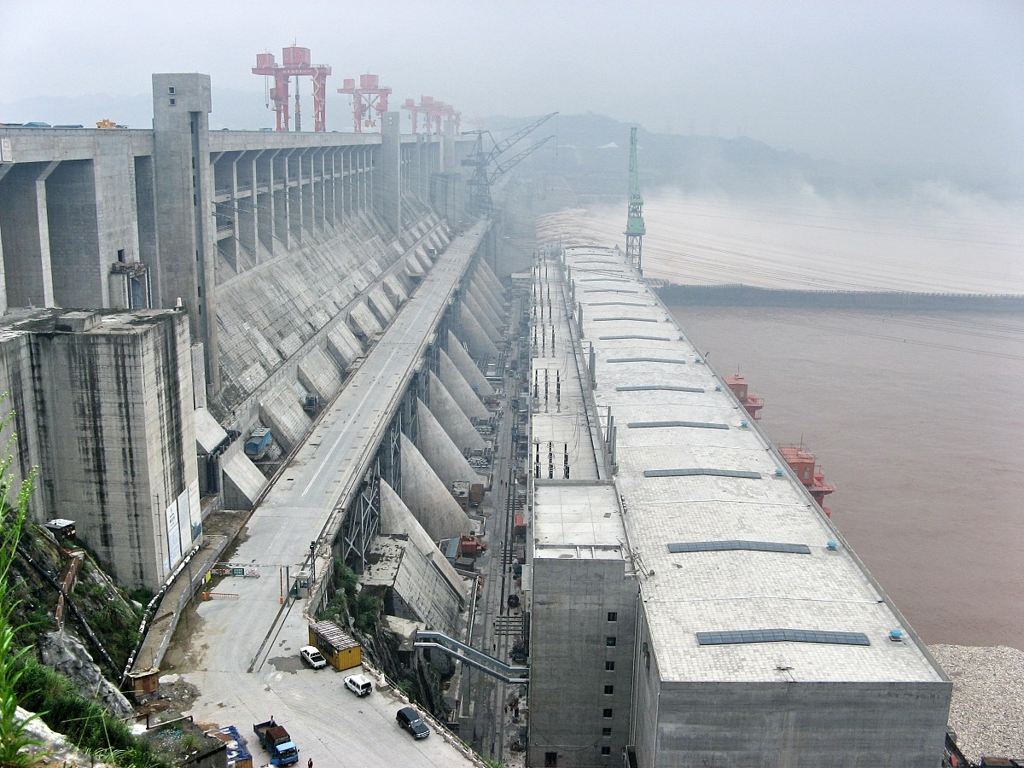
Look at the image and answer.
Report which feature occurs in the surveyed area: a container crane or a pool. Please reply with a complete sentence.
Of the two, only a container crane appears.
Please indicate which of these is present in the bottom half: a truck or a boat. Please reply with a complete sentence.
There is a truck in the bottom half.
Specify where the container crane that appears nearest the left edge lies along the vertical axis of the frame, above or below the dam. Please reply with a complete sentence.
In the image, the container crane that appears nearest the left edge appears above the dam.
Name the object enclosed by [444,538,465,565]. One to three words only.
shed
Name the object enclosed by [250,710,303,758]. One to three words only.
truck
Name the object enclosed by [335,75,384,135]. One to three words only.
container crane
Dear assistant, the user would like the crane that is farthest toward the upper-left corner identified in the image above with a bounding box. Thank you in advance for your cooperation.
[251,38,323,133]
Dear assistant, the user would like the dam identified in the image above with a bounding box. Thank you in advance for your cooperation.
[0,126,485,454]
